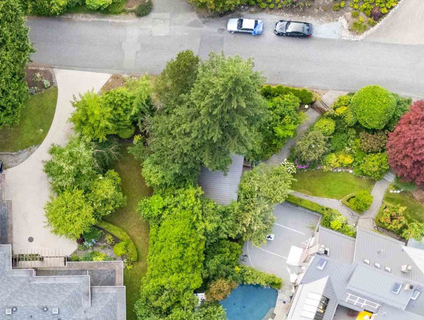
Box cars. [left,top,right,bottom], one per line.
[273,20,315,37]
[227,17,263,35]
[0,159,7,173]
